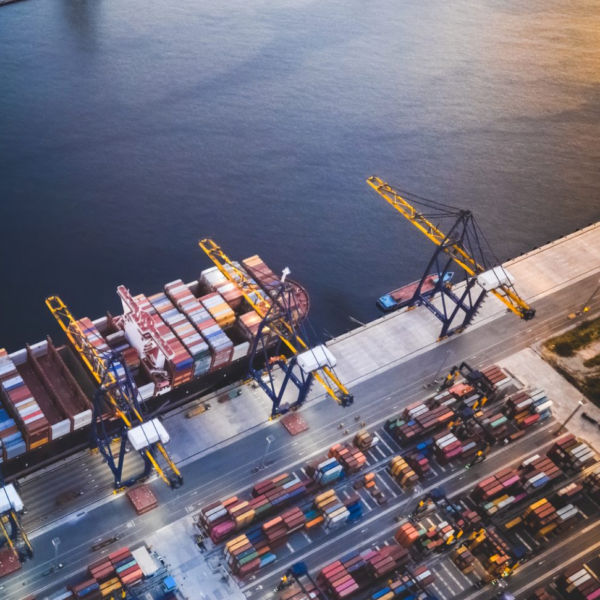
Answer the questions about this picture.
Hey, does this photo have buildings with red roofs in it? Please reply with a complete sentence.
No, no building with a red roof can be seen from above.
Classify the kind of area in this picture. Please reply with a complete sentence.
This looks like a port.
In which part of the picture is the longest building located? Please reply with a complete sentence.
The longest building appears toward the bottom left of the photo.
